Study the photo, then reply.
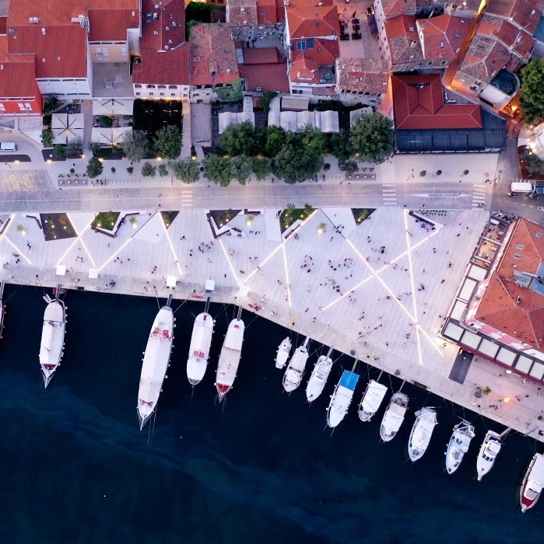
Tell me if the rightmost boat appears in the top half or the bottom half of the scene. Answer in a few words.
bottom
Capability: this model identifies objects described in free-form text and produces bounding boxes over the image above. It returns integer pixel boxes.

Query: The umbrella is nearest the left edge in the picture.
[52,113,83,144]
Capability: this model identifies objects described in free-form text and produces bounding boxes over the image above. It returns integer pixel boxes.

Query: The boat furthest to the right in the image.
[517,444,544,521]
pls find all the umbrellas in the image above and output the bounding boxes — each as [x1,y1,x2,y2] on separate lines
[159,100,181,123]
[92,127,132,144]
[135,124,157,145]
[367,15,379,33]
[52,113,83,144]
[93,99,133,114]
[134,100,157,123]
